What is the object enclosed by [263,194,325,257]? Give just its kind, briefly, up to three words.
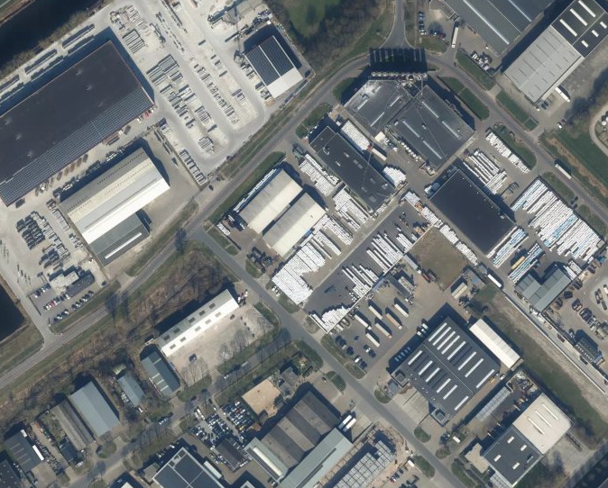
building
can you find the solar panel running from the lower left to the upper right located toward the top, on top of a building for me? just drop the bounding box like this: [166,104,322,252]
[0,86,153,202]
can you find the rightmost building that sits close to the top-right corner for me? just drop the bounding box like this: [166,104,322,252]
[550,0,608,57]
